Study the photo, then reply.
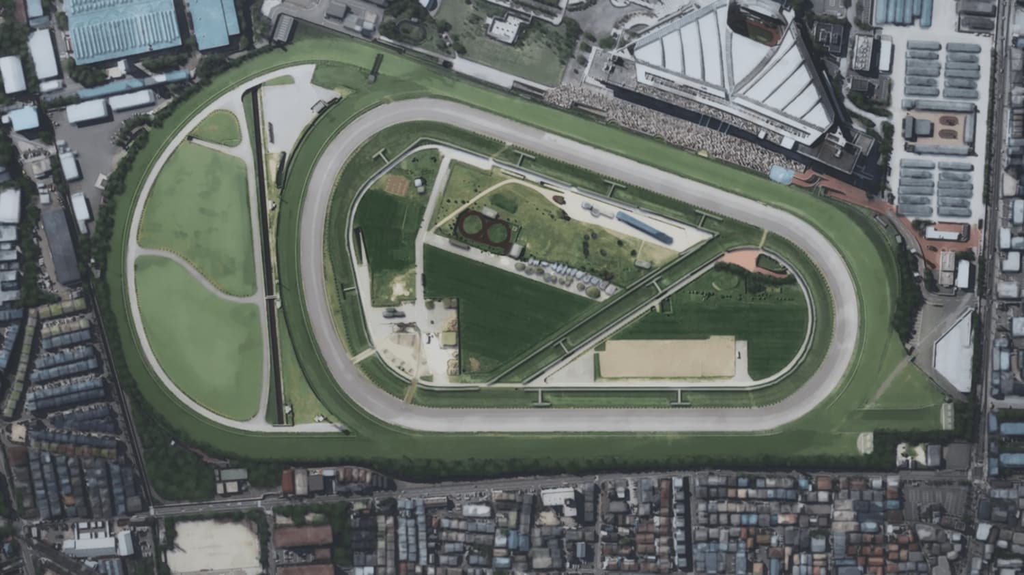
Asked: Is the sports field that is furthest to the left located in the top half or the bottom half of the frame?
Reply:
bottom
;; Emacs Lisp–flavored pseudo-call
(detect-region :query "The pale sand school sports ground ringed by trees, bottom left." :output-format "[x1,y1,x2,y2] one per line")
[167,520,263,575]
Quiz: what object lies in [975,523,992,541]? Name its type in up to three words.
house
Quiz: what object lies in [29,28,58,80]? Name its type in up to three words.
building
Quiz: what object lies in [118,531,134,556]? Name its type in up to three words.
building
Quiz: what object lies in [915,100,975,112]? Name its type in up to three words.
barn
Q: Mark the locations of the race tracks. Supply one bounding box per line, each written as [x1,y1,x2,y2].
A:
[109,18,947,465]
